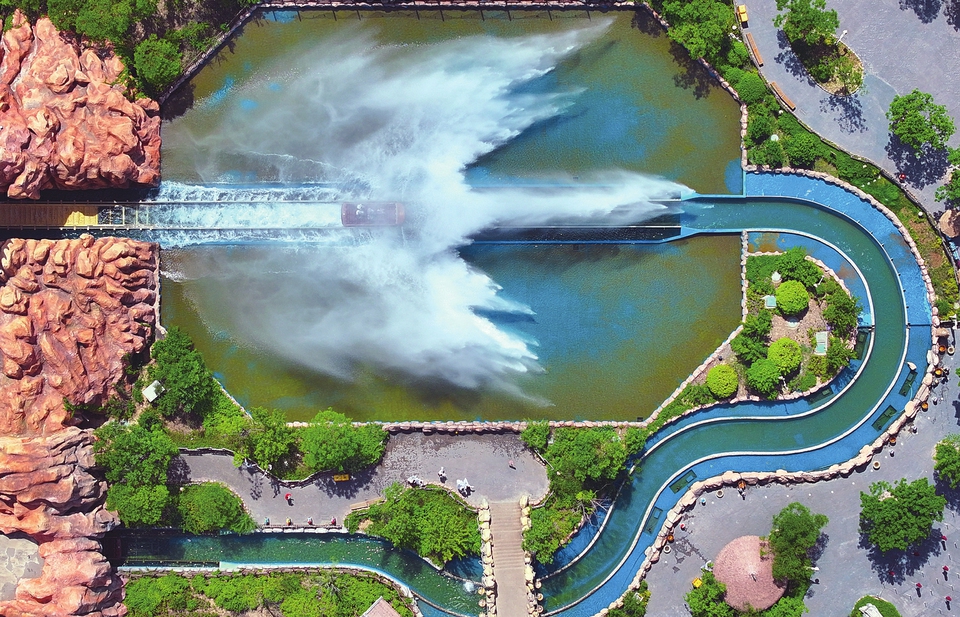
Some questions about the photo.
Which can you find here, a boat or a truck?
boat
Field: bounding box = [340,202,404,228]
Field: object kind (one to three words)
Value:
boat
